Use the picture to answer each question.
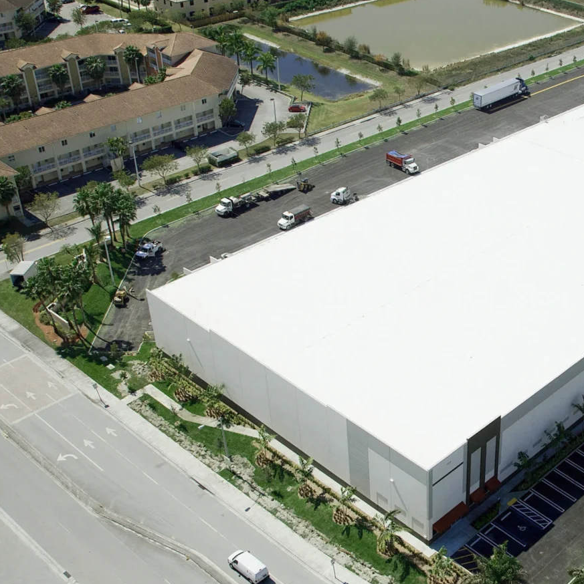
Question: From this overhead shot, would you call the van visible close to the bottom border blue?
No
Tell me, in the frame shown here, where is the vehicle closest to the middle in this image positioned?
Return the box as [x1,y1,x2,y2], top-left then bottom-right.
[279,207,314,228]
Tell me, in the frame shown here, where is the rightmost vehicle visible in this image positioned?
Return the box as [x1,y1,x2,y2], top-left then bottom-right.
[512,82,530,99]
